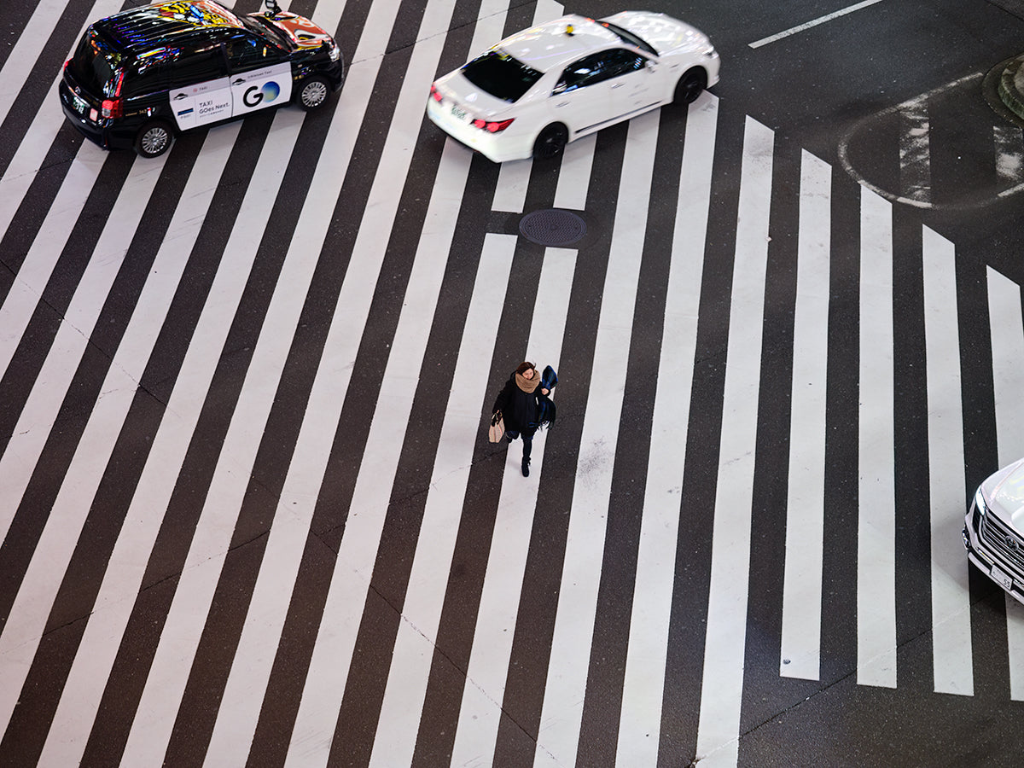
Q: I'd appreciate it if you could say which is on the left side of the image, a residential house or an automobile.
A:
automobile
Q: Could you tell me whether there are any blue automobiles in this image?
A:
No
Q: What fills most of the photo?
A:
paved ground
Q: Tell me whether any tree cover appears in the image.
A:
No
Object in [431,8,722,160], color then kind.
white car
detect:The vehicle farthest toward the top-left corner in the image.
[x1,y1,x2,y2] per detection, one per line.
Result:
[58,0,350,157]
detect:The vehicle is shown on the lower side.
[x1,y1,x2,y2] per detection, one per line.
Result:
[963,461,1024,607]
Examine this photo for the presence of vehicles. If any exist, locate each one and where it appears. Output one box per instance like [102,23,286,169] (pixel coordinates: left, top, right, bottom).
[58,0,350,157]
[431,8,722,160]
[963,461,1024,607]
